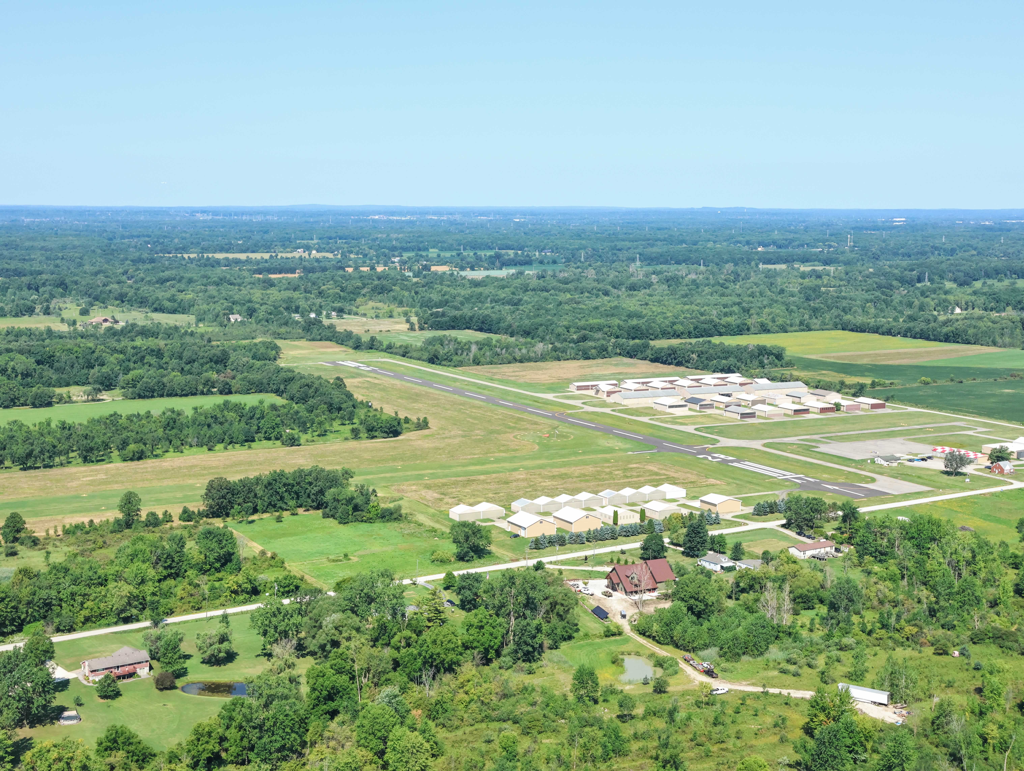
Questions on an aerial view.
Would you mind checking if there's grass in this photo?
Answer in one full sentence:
Yes, there's grass in this view.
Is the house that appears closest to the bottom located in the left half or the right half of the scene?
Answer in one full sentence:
You can find the house that appears closest to the bottom on the left side of the picture.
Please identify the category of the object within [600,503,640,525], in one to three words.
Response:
building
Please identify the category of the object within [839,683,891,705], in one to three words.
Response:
trailer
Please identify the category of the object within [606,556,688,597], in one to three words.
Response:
house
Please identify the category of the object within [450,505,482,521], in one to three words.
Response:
hangar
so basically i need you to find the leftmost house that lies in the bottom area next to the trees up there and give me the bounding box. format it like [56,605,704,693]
[84,642,152,680]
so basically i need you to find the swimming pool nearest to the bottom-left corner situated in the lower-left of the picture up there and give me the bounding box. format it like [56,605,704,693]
[58,705,82,724]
